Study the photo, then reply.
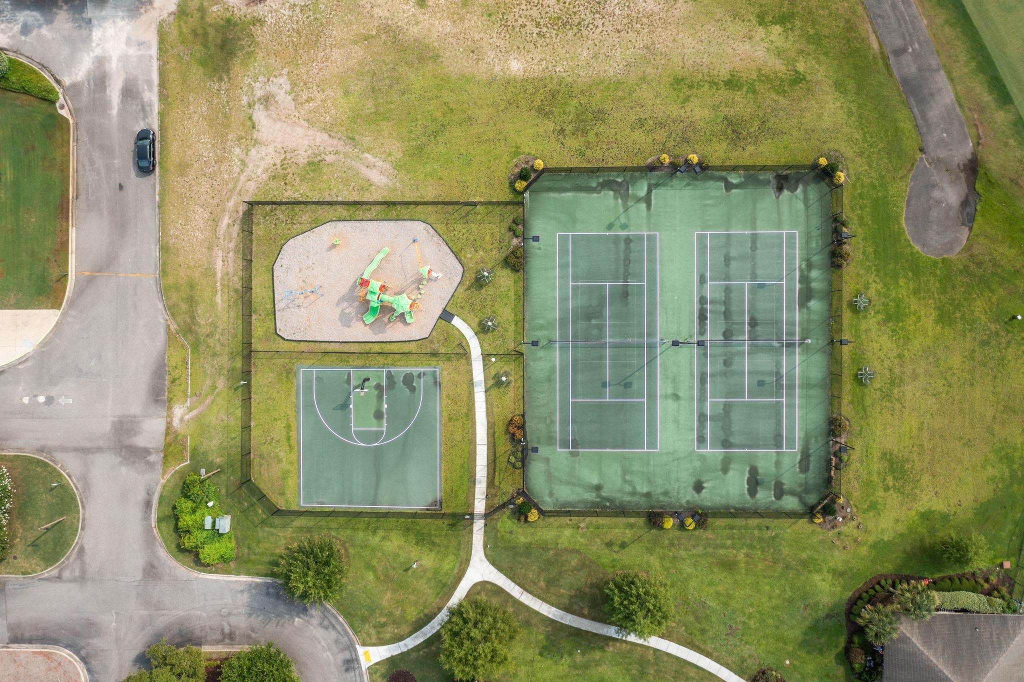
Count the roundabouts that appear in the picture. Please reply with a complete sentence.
There are no roundabouts in this view.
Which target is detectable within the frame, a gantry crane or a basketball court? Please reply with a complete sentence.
I can see a basketball court in this picture.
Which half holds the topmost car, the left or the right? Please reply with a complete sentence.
It is on the left.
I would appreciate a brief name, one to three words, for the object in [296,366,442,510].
basketball court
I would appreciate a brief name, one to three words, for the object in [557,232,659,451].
tennis court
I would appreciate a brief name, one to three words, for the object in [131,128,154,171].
car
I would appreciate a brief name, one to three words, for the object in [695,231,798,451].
tennis court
